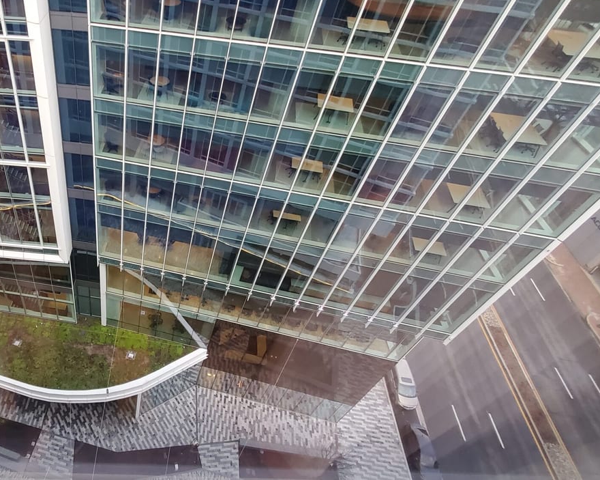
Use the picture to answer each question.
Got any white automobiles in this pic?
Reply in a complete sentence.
Yes, you can see a white automobile in this photo.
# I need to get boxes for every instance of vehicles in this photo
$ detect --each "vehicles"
[406,431,445,480]
[387,361,420,411]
